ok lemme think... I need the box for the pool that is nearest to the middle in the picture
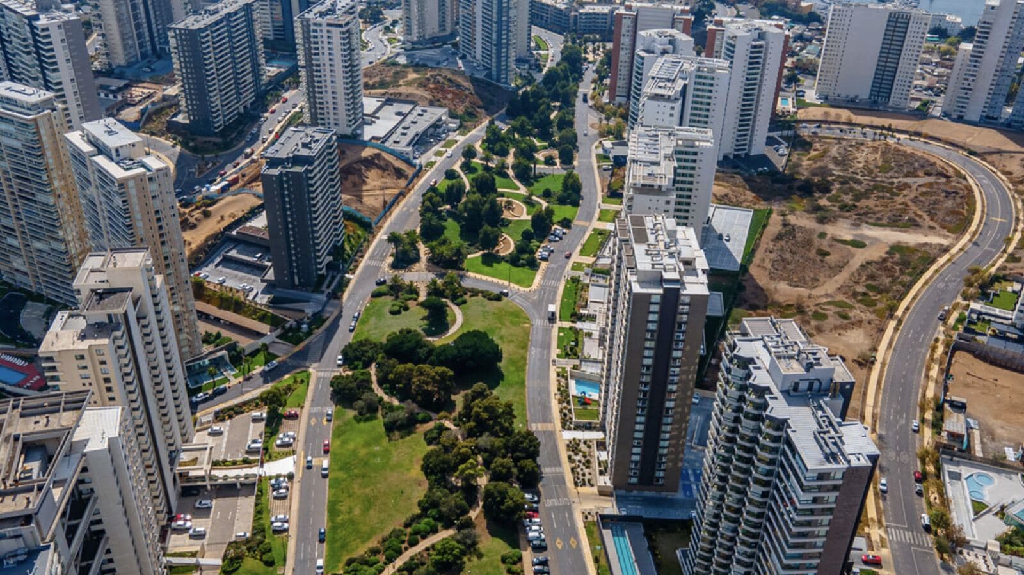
[573,378,596,396]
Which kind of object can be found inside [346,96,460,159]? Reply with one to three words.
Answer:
building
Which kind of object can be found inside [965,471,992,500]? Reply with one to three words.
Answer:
swimming pool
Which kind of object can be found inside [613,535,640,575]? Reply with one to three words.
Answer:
swimming pool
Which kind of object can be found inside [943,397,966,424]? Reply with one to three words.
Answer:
shed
